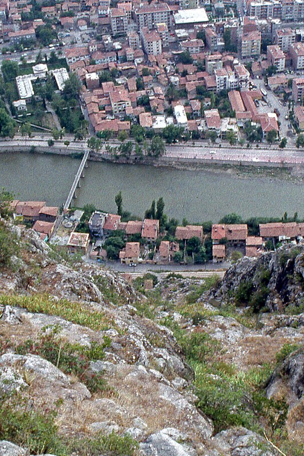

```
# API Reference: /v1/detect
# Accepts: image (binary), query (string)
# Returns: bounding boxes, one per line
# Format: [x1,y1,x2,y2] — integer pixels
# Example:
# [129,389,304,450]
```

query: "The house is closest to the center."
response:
[142,219,158,244]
